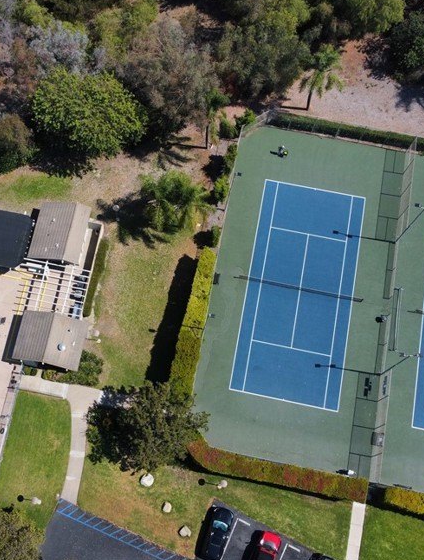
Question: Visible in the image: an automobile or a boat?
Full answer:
Of the two, only an automobile appears.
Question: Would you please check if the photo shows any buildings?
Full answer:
Yes, the picture does show a building.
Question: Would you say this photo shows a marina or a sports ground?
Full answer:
It's a sports ground.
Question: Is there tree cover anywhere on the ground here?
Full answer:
Yes, tree cover can be seen from above here.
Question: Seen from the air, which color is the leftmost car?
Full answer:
From above, the leftmost car appears black.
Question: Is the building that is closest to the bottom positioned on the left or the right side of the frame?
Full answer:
It is on the left.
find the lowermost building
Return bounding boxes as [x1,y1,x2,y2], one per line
[12,310,89,371]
